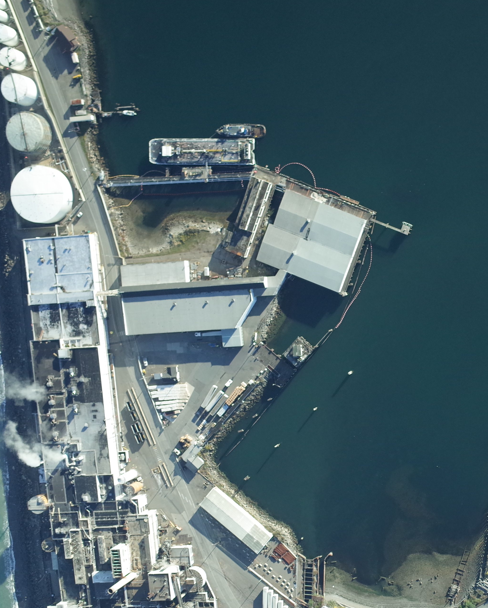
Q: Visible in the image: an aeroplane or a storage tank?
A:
storage tank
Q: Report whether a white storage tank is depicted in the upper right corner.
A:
No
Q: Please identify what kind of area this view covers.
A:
port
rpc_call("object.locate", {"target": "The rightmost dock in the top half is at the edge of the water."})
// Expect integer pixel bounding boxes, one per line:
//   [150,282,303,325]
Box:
[250,165,377,296]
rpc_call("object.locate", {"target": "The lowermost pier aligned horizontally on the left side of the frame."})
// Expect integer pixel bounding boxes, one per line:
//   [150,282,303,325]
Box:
[110,173,251,187]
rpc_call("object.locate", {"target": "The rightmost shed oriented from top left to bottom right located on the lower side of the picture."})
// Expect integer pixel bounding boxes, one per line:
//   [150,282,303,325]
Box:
[199,486,277,554]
